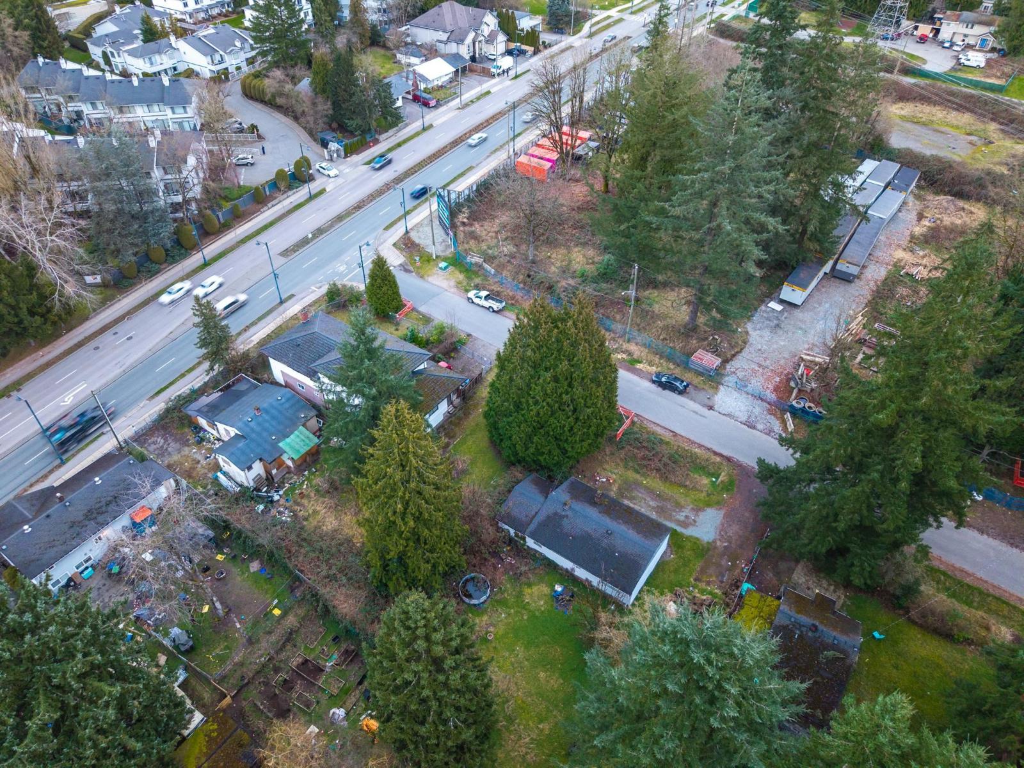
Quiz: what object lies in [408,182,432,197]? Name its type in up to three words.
car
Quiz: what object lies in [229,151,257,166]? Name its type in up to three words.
car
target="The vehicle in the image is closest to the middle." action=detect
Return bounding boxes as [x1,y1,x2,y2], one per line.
[465,286,506,312]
